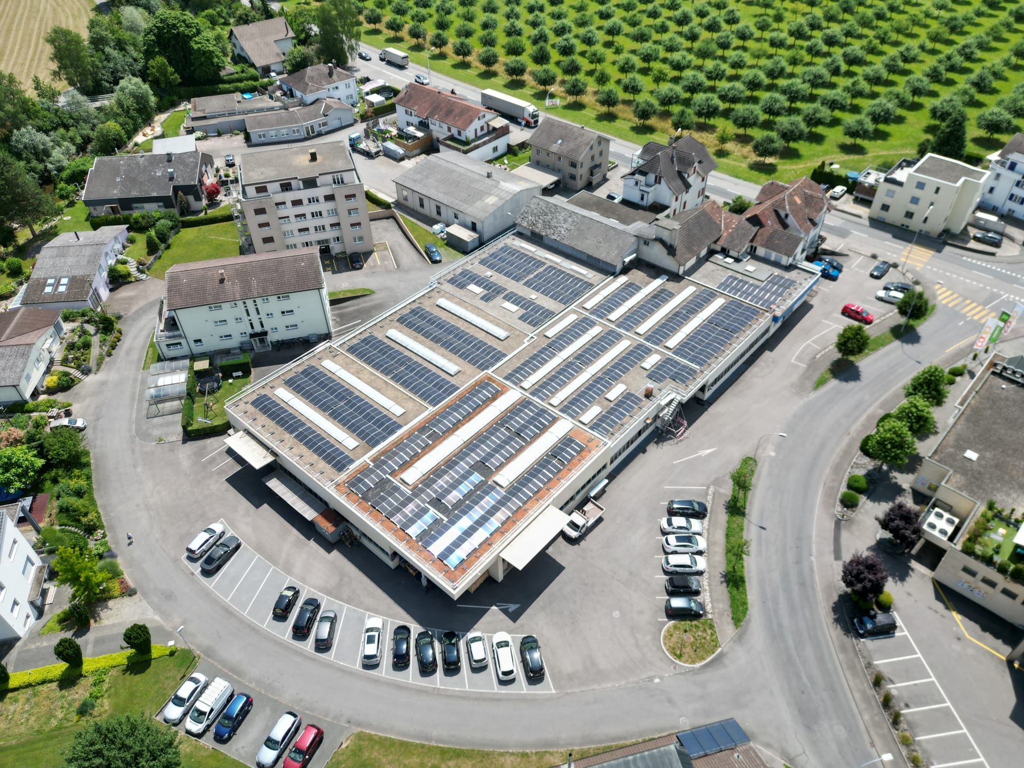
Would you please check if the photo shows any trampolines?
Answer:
Yes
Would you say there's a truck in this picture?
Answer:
Yes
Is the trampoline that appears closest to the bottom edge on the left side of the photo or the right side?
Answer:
left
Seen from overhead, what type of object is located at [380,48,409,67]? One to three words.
vehicle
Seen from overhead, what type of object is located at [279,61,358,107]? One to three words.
house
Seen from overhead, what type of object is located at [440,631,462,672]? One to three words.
car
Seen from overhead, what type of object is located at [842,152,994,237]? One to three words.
building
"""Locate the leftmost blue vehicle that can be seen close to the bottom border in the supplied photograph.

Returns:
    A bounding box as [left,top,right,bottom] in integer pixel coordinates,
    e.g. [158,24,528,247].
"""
[214,691,255,743]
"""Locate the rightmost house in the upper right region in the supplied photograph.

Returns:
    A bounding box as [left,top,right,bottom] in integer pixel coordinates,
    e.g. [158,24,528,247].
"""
[980,133,1024,220]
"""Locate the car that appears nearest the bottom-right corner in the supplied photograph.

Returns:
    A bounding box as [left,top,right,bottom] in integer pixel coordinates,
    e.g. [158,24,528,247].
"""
[850,611,903,637]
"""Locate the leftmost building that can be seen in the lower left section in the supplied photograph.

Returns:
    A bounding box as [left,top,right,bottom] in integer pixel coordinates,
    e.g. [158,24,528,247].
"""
[0,523,66,641]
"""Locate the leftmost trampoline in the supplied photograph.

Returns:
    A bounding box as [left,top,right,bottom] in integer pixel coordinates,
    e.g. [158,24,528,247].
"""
[191,364,222,390]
